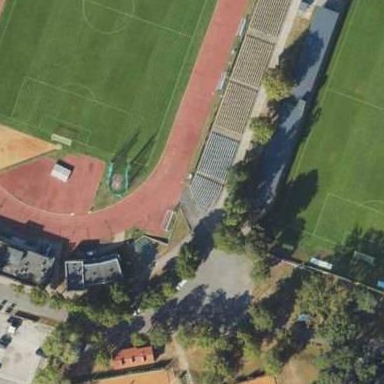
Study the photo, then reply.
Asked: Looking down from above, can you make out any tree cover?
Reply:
Yes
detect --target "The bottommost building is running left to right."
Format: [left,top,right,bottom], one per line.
[112,346,154,370]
